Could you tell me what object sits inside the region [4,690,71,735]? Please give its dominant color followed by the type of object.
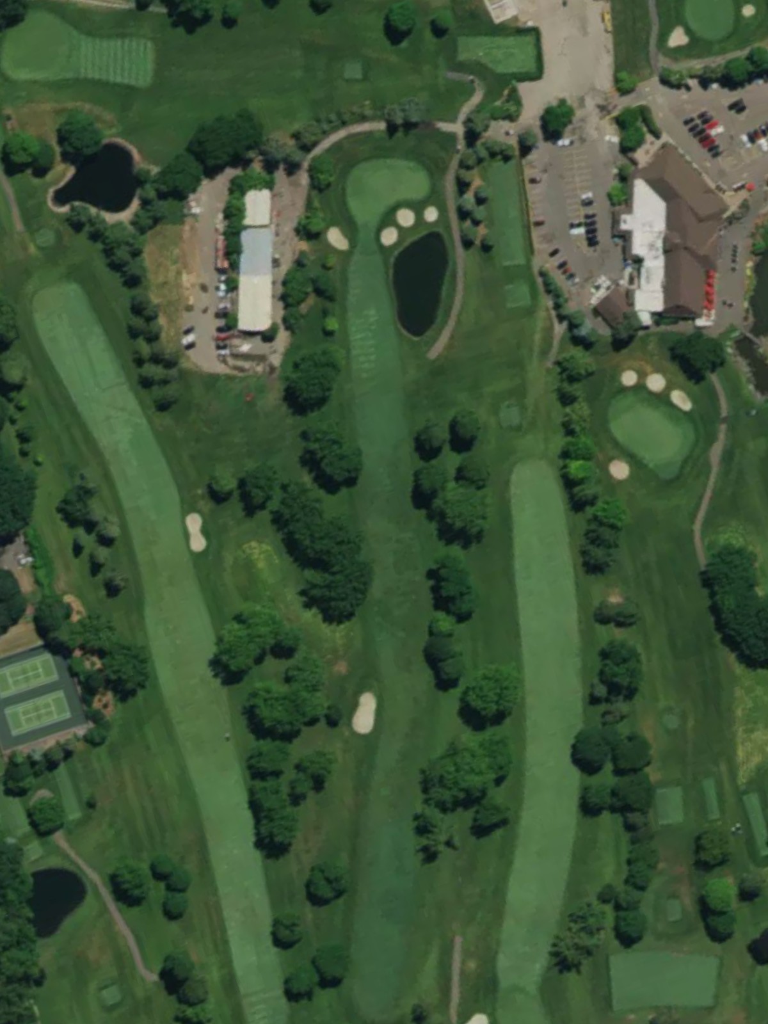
green tennis court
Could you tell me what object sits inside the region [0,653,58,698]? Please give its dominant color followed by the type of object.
green tennis court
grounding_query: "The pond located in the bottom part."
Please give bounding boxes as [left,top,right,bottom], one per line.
[22,868,86,938]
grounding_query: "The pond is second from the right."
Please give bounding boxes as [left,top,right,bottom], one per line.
[392,232,448,337]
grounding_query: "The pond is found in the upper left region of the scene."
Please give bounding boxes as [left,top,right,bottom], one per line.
[53,141,137,212]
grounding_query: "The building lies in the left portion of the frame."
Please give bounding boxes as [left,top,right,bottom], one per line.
[238,189,272,330]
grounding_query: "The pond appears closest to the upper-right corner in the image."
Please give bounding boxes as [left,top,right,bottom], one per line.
[734,251,768,395]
